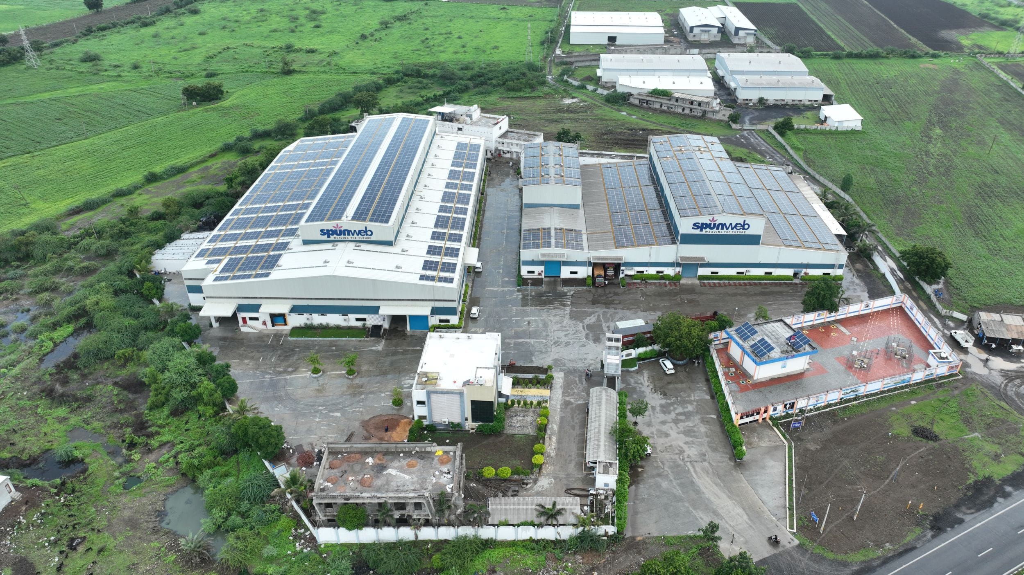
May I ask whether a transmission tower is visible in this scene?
Yes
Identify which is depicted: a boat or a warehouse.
warehouse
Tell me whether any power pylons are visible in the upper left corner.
Yes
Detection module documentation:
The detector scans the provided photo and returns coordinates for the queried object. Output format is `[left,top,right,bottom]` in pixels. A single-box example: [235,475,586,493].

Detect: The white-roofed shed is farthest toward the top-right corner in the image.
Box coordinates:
[819,105,864,131]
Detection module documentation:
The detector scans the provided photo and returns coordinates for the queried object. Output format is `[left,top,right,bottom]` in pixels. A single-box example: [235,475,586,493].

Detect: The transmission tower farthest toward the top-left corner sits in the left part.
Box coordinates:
[6,8,43,69]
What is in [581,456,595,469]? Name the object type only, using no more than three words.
vehicle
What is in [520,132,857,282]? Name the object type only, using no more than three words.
building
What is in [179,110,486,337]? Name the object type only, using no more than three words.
warehouse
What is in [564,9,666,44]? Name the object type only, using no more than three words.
shed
